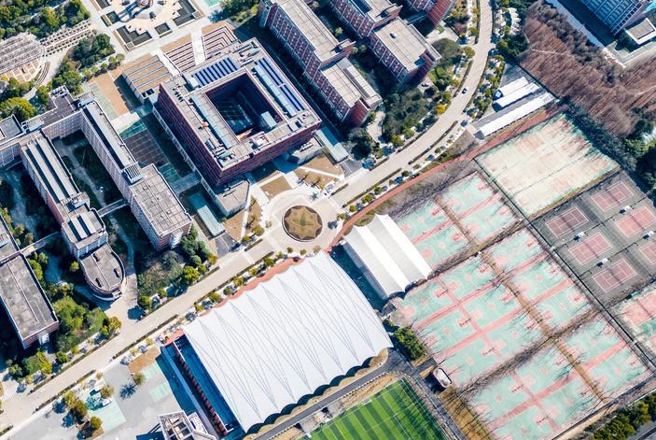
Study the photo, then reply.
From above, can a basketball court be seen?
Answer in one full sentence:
Yes, there's a basketball court down there.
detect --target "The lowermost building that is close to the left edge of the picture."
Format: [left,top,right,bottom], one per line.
[0,88,191,348]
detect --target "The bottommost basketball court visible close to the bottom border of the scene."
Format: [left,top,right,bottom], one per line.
[495,403,557,440]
